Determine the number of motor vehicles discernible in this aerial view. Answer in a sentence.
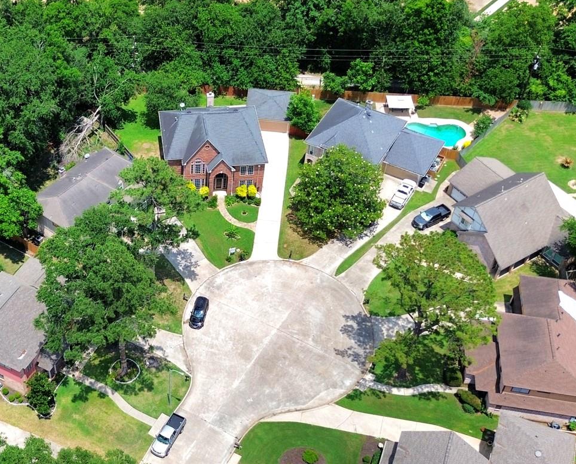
The number of motor vehicles here is 4.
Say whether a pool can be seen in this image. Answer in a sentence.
Yes, a pool can be made out from above.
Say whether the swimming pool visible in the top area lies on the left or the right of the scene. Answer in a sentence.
The swimming pool visible in the top area sits on the right side.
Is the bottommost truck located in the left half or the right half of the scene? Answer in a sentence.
The bottommost truck is on the left side of the image.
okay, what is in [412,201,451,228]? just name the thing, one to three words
truck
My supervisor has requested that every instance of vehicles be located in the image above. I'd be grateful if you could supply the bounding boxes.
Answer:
[149,407,191,459]
[412,201,451,228]
[189,289,209,326]
[390,178,416,207]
